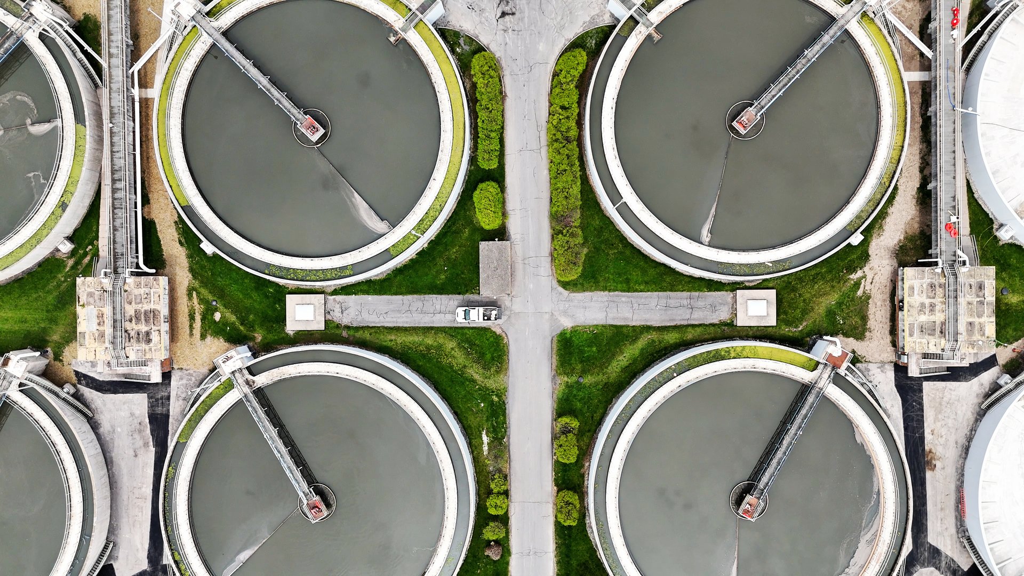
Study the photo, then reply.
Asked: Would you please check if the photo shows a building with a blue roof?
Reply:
No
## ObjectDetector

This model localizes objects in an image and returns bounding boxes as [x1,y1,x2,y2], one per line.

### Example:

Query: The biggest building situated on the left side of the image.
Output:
[77,276,174,372]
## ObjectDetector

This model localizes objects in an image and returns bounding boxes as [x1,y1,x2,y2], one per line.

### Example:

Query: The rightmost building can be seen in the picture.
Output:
[895,266,995,366]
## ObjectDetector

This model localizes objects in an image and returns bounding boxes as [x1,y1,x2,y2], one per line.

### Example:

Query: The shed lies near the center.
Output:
[480,237,510,299]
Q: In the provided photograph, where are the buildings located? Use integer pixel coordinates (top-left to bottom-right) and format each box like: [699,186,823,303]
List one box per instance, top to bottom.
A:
[480,237,510,299]
[895,266,995,366]
[77,276,174,372]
